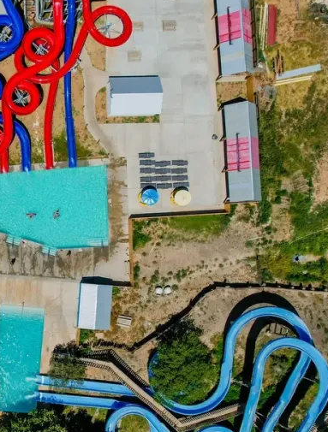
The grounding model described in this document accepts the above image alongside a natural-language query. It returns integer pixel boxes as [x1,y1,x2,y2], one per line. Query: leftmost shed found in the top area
[106,76,162,118]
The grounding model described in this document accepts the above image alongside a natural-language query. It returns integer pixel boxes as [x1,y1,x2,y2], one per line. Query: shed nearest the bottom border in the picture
[76,283,112,330]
